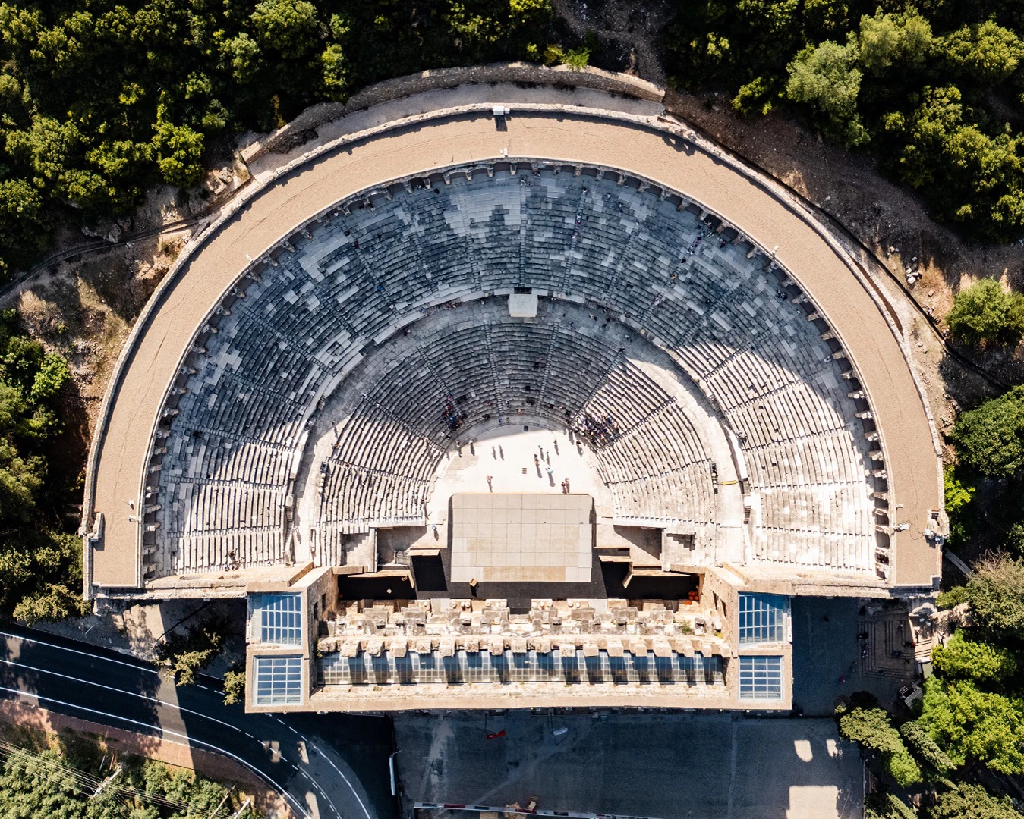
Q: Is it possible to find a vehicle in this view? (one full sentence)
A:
No, there isn't any vehicle down there.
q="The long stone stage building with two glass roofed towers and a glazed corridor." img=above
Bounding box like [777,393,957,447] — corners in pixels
[246,560,792,712]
